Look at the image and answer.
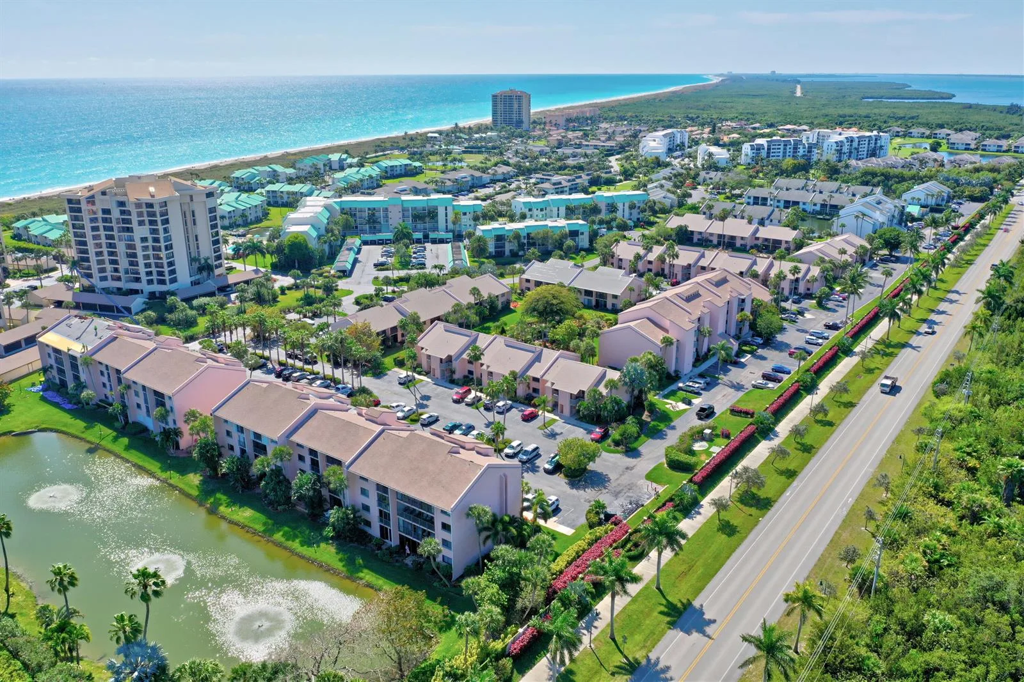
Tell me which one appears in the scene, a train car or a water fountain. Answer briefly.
water fountain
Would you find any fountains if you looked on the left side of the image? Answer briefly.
Yes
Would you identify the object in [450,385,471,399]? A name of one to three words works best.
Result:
car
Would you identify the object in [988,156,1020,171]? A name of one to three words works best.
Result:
house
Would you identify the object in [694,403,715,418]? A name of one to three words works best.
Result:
vehicle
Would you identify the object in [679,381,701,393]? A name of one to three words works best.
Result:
vehicle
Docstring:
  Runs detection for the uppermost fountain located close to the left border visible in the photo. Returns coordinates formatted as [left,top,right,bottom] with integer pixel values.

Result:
[27,488,88,516]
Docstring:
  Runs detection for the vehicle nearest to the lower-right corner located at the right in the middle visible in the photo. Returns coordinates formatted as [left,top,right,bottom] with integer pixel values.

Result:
[883,375,901,391]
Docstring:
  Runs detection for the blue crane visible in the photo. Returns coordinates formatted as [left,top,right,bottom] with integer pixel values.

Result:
[75,264,152,328]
